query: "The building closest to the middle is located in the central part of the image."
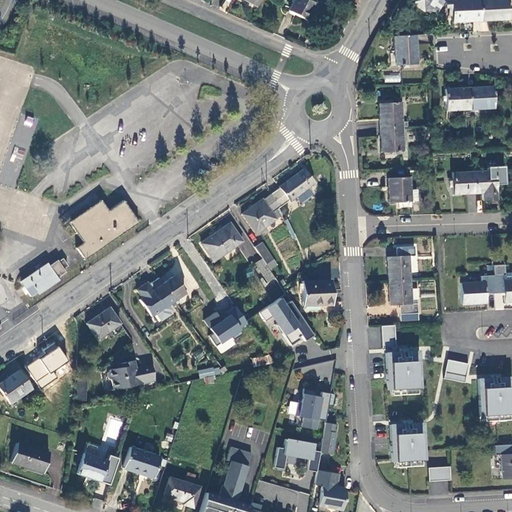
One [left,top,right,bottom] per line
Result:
[252,241,277,286]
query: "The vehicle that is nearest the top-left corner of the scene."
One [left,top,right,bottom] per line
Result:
[10,146,23,159]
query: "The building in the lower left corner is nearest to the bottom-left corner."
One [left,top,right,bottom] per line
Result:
[12,442,52,475]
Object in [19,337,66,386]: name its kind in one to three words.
house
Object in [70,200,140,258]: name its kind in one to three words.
building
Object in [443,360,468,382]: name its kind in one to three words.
building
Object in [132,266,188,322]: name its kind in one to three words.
house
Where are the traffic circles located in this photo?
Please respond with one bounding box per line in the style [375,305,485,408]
[276,51,358,171]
